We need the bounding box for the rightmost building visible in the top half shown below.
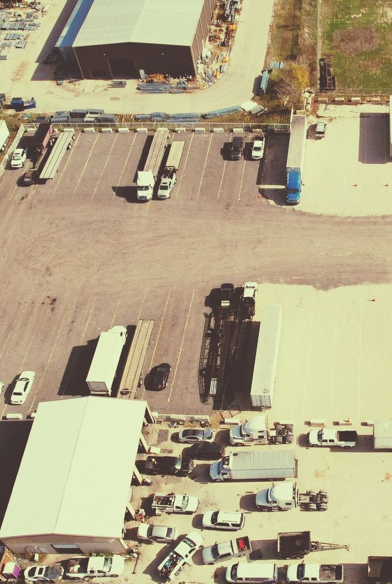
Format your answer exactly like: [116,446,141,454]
[51,0,218,78]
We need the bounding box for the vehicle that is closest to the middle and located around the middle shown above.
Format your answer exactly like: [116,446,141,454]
[218,283,234,311]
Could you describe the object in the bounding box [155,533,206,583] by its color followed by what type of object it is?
white truck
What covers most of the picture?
paved ground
